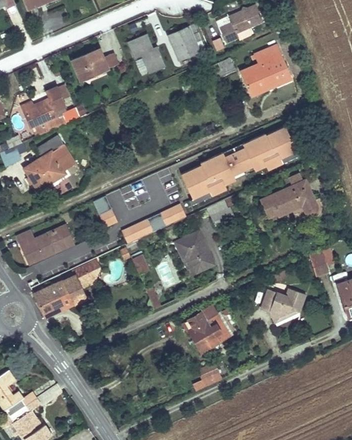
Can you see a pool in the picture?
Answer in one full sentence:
Yes, the image includes a pool.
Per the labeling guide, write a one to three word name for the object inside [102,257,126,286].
swimming pool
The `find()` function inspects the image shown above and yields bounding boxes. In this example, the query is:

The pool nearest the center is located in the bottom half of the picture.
[155,254,180,290]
